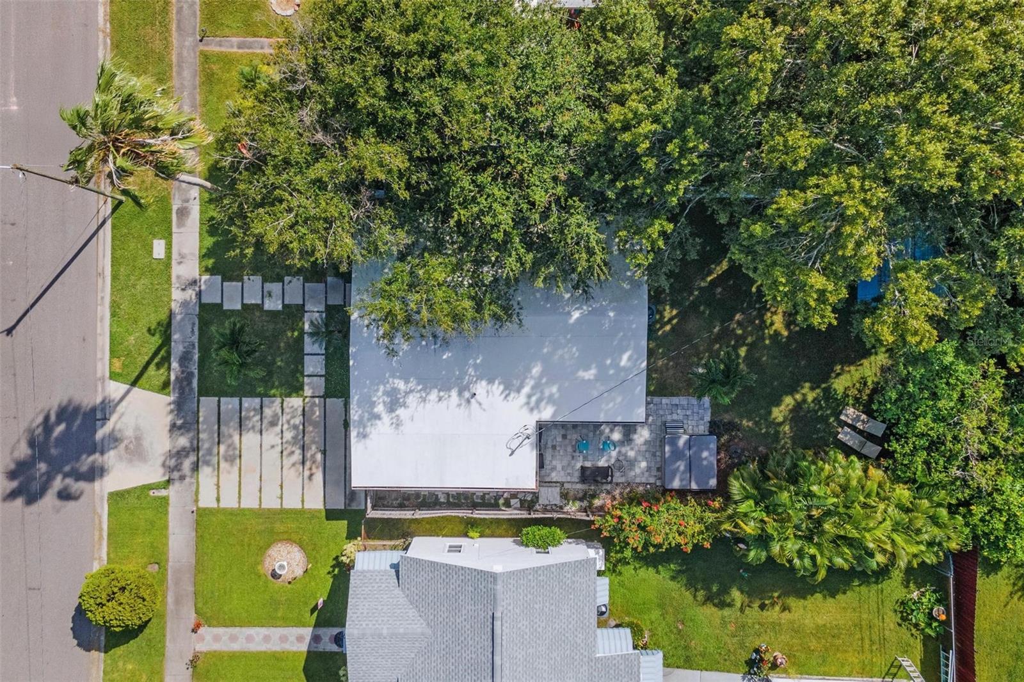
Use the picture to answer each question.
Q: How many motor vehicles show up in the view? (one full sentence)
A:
The count of motor vehicles is 0.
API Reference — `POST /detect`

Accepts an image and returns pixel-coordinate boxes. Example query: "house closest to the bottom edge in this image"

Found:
[343,532,663,682]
